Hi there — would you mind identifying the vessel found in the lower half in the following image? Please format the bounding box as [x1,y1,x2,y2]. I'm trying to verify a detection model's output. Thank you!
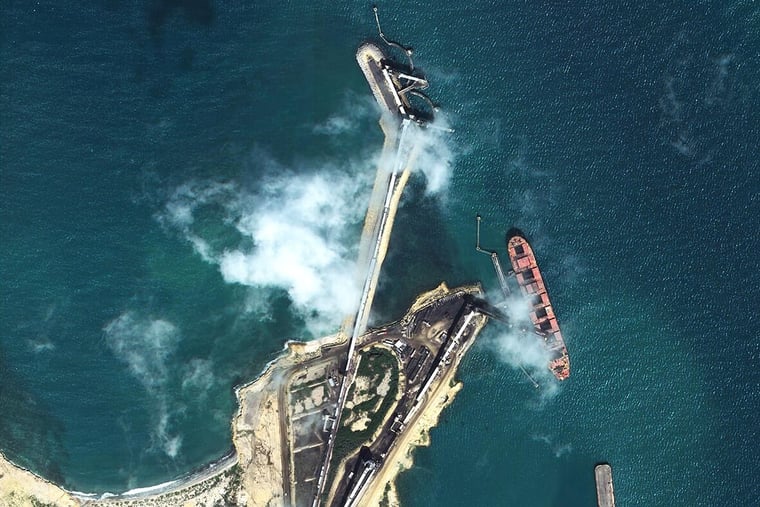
[510,236,571,382]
